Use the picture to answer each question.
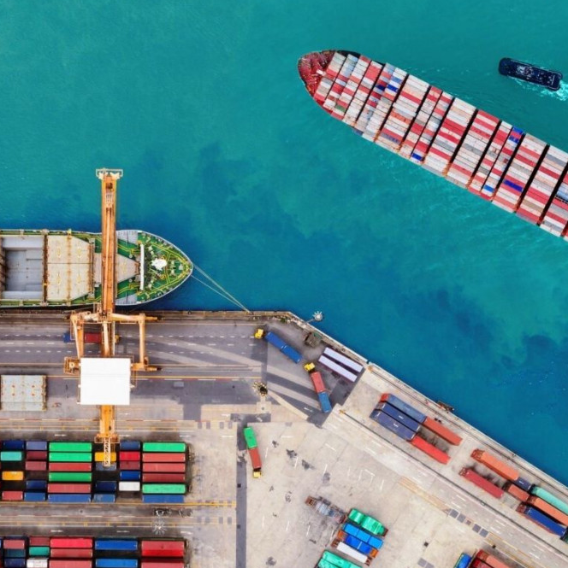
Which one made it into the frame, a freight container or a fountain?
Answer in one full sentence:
Visible in the photo is a freight container.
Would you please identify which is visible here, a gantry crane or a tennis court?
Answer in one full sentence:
It is a gantry crane that can be seen here.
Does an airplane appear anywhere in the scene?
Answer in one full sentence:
No, no airplane can be seen from above.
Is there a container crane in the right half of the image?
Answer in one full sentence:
No, I see no container crane in the right half of the image.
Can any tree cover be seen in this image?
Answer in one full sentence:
No, there's no tree cover in this view.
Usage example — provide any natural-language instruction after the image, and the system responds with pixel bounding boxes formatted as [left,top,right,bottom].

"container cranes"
[68,167,163,468]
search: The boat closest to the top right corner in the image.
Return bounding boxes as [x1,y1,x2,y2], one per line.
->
[496,58,564,94]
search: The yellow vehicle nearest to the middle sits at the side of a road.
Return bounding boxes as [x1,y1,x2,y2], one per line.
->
[253,328,271,341]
